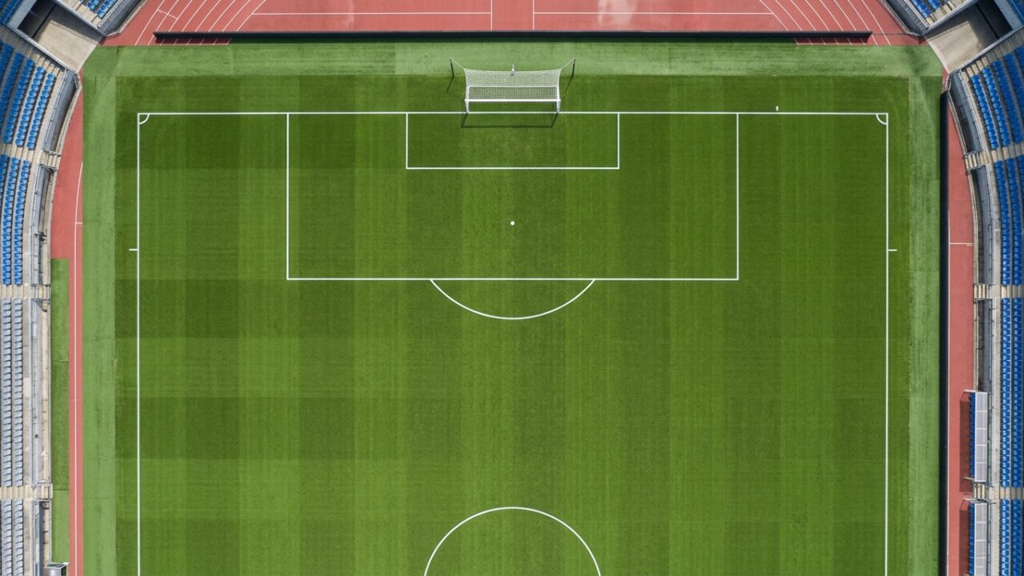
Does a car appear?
No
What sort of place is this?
sports ground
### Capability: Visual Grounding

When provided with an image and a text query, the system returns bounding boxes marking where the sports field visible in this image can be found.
[115,76,910,576]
